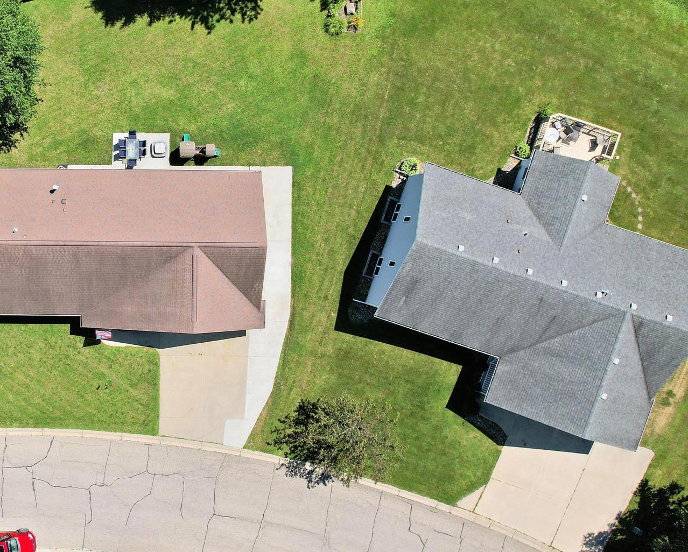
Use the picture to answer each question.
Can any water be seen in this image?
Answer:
No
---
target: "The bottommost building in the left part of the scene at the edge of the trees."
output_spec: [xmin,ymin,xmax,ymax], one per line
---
[0,166,267,333]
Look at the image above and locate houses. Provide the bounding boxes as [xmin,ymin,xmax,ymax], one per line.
[346,149,688,453]
[0,166,267,333]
